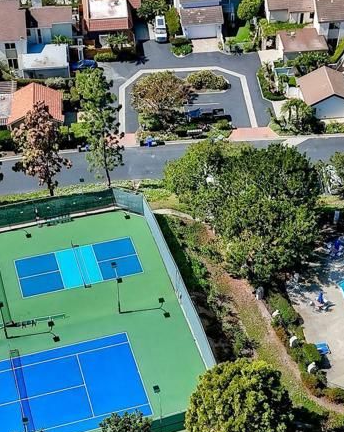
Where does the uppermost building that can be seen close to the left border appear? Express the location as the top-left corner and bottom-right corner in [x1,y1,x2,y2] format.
[0,0,75,89]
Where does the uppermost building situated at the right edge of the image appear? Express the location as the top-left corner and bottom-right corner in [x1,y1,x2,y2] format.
[266,0,344,69]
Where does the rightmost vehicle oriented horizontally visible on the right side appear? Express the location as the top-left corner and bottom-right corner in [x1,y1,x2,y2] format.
[197,106,237,123]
